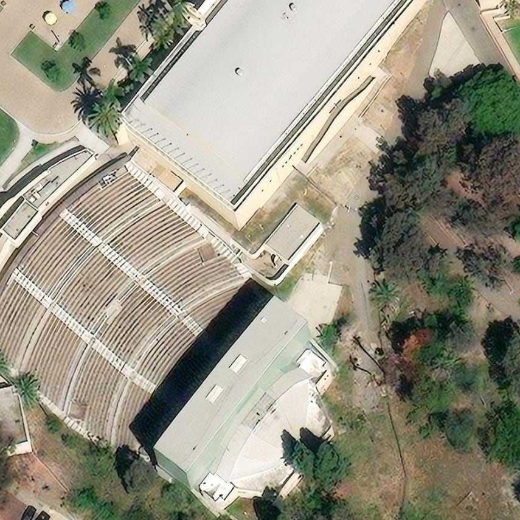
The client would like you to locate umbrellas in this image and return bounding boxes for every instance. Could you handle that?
[63,0,75,13]
[44,11,58,24]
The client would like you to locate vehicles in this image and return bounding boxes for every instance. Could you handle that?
[36,507,51,520]
[22,503,36,520]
